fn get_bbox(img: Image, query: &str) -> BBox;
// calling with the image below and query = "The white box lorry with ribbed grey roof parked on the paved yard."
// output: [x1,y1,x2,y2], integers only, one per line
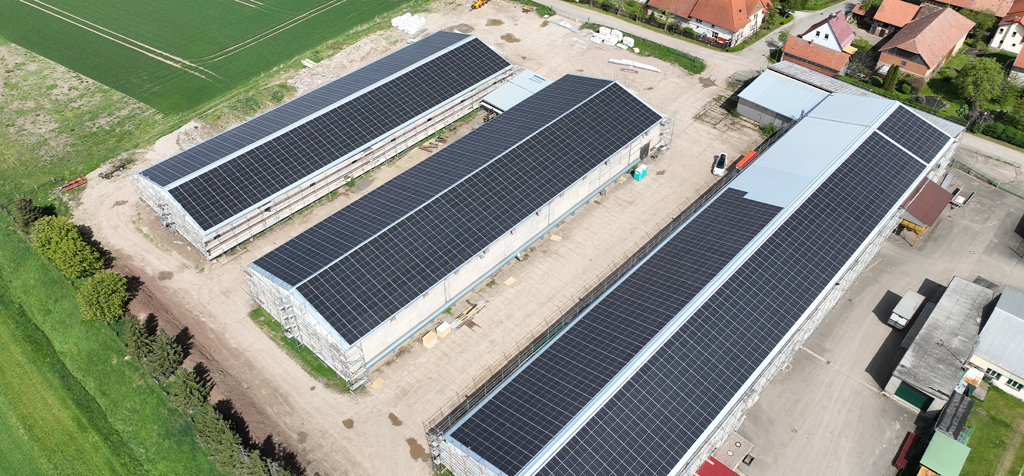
[878,287,924,338]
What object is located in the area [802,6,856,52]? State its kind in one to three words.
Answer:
house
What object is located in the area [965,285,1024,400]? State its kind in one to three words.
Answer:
building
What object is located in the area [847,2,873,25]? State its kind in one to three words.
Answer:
shed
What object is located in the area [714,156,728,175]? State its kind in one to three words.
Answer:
car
